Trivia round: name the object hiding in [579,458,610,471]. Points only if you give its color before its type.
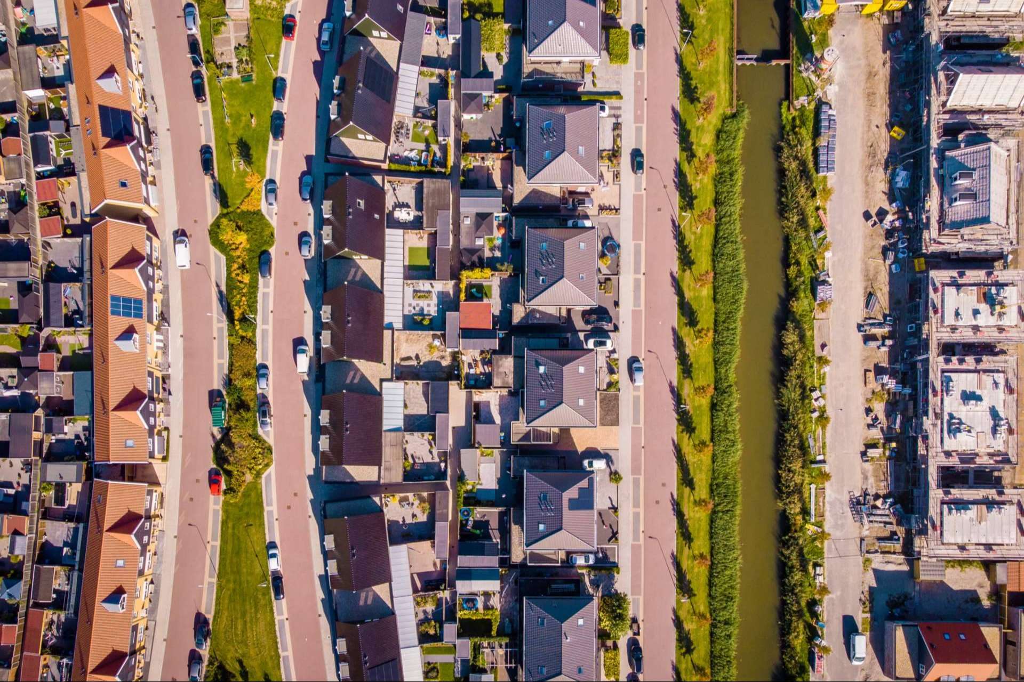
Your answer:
white vehicle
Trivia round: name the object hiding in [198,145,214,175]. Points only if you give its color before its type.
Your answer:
black car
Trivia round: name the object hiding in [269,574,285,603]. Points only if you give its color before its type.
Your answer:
black car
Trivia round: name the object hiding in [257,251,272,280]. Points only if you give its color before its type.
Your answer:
blue car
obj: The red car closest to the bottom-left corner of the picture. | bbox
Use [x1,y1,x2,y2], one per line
[206,472,222,499]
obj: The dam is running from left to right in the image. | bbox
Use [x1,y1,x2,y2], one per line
[736,53,790,68]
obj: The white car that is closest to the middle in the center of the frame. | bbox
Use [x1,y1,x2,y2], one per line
[585,337,617,352]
